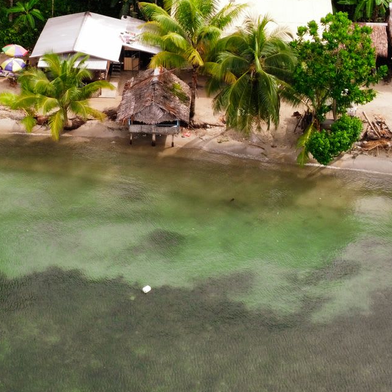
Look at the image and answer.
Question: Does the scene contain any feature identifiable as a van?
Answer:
No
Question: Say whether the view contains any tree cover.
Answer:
Yes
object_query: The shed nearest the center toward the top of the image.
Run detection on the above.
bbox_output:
[115,66,195,147]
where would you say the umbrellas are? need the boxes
[0,58,27,73]
[1,45,28,58]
